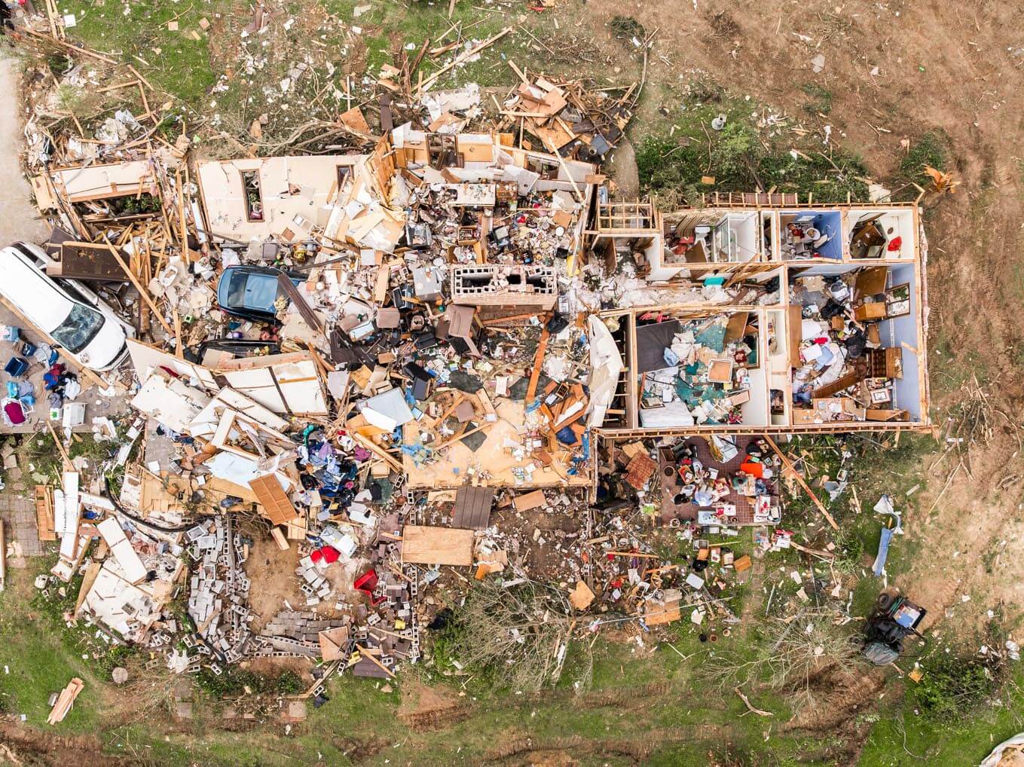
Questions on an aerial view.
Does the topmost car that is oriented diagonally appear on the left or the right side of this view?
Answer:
left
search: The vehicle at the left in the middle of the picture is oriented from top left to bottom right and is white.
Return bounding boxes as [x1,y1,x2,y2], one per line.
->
[0,235,141,370]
